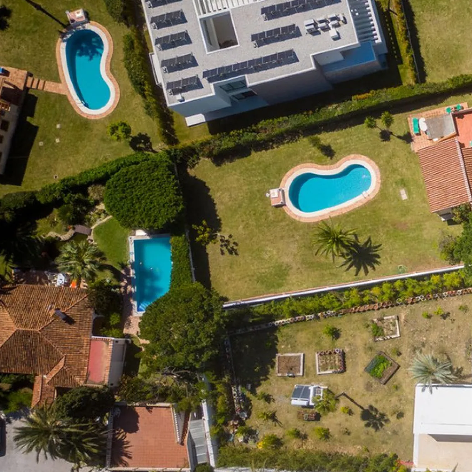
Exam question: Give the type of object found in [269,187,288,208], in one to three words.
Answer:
building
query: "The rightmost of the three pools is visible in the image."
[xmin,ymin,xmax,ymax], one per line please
[280,155,382,221]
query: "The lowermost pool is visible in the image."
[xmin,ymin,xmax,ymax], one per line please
[128,232,176,317]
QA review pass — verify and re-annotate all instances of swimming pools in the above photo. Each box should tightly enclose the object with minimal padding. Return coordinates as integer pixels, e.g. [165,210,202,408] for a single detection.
[128,232,176,317]
[56,20,121,120]
[280,155,382,221]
